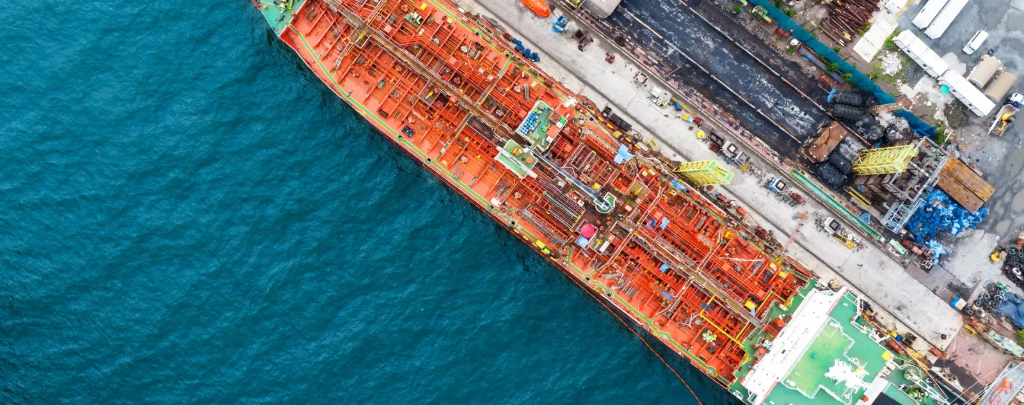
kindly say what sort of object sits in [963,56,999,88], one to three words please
storage tank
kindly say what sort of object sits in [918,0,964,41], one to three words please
trailer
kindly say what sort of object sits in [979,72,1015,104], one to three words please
storage tank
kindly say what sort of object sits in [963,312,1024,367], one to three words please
boat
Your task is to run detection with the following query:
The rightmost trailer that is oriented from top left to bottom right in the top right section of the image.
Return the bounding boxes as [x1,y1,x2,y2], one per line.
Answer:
[940,71,995,117]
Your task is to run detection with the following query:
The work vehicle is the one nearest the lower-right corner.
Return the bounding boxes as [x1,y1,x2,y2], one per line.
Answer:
[991,248,1008,263]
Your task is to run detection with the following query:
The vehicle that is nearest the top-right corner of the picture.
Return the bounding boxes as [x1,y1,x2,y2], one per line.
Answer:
[960,30,988,56]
